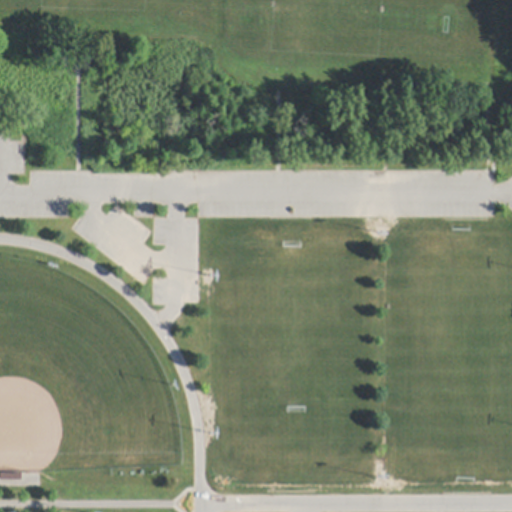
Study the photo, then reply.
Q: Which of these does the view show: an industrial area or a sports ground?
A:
sports ground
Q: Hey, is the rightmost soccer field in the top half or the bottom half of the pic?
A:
bottom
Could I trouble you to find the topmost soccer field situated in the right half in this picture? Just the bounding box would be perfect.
[270,0,470,56]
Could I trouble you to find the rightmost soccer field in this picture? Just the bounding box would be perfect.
[386,220,512,483]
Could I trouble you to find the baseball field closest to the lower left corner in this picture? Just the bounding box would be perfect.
[0,254,183,470]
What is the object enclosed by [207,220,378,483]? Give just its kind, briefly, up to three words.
soccer field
